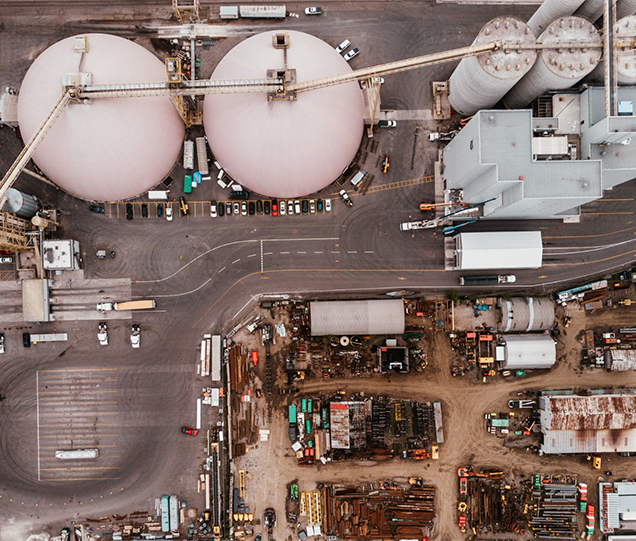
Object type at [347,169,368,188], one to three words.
vehicle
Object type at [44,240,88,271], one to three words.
building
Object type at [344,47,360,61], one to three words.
vehicle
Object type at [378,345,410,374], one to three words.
shed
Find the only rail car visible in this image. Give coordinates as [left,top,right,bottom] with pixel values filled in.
[240,8,288,21]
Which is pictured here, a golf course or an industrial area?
industrial area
